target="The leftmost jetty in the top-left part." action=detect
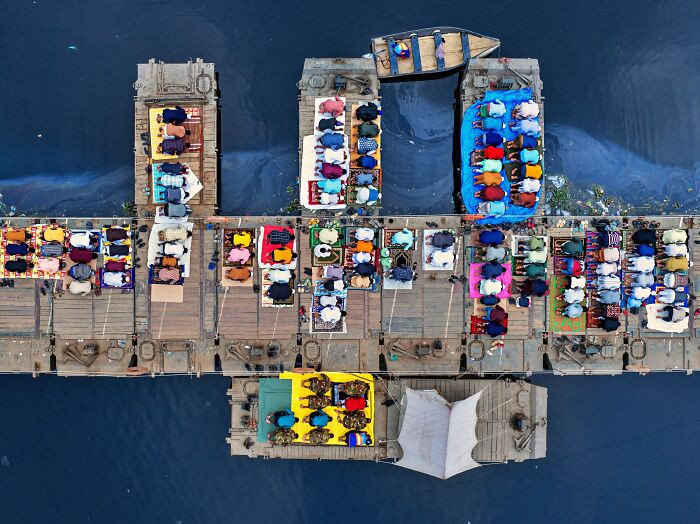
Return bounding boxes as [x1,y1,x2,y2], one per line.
[130,57,222,217]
